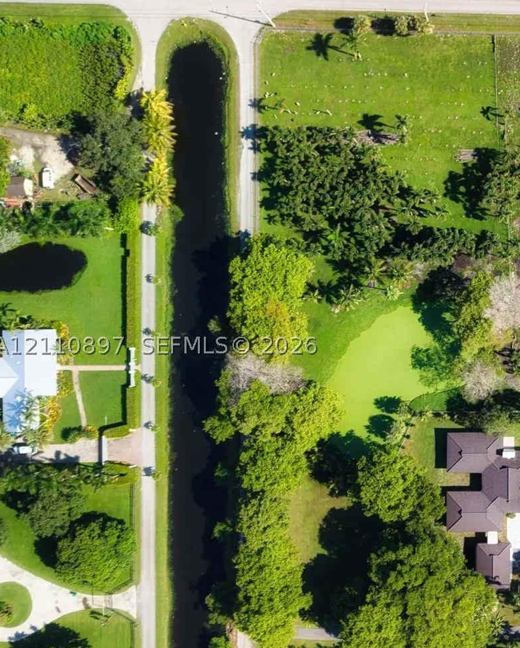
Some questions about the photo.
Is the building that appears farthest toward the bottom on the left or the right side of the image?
right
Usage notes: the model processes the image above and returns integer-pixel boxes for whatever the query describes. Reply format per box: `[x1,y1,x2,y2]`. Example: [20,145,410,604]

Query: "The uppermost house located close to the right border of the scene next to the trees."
[446,432,520,532]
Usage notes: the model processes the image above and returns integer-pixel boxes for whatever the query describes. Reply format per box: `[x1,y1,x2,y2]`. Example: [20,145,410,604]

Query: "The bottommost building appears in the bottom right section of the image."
[476,543,511,591]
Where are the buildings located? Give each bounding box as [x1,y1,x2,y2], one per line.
[7,176,30,197]
[446,432,520,532]
[0,329,61,432]
[476,543,511,591]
